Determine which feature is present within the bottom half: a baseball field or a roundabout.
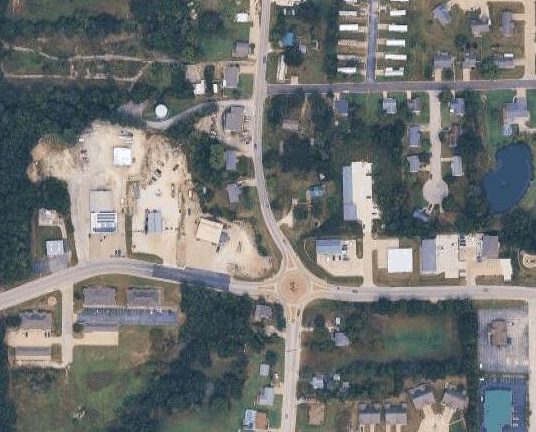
roundabout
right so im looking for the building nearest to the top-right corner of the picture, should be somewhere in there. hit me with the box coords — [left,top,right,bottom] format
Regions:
[500,11,515,35]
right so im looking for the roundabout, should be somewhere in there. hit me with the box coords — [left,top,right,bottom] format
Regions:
[254,246,343,332]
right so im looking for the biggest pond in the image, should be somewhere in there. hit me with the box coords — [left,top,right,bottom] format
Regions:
[482,144,533,213]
